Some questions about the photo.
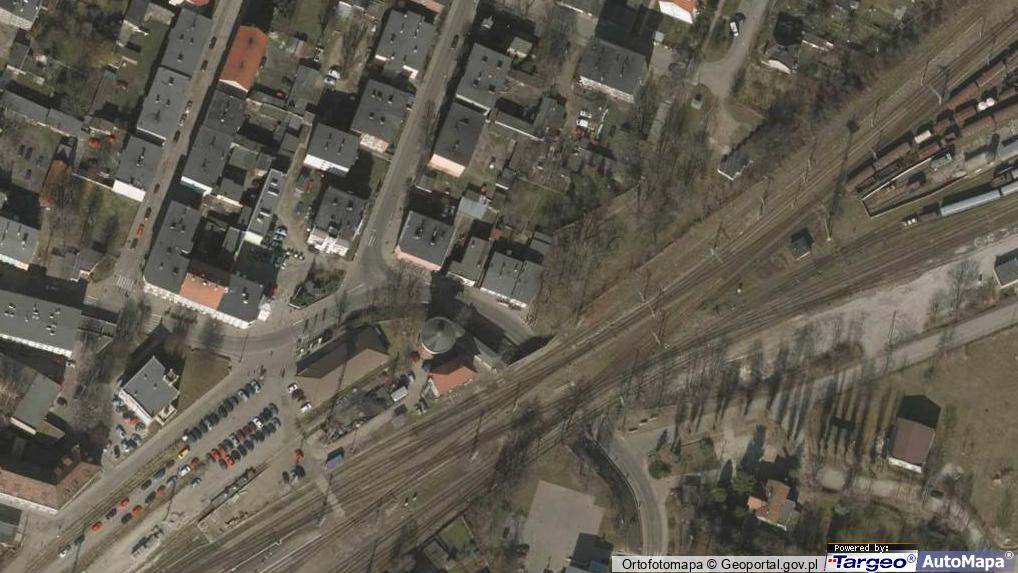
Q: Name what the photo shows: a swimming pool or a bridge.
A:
bridge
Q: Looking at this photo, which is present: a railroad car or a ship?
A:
railroad car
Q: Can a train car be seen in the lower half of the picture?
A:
No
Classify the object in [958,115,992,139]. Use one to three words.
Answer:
rail car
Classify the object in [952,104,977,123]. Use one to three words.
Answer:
rail car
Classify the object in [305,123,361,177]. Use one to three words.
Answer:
building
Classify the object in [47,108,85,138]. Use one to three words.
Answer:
shed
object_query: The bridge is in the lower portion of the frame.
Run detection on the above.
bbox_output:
[509,336,600,438]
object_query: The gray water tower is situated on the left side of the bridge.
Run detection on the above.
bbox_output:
[422,318,467,360]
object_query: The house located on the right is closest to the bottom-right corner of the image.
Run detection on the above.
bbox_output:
[887,417,937,471]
